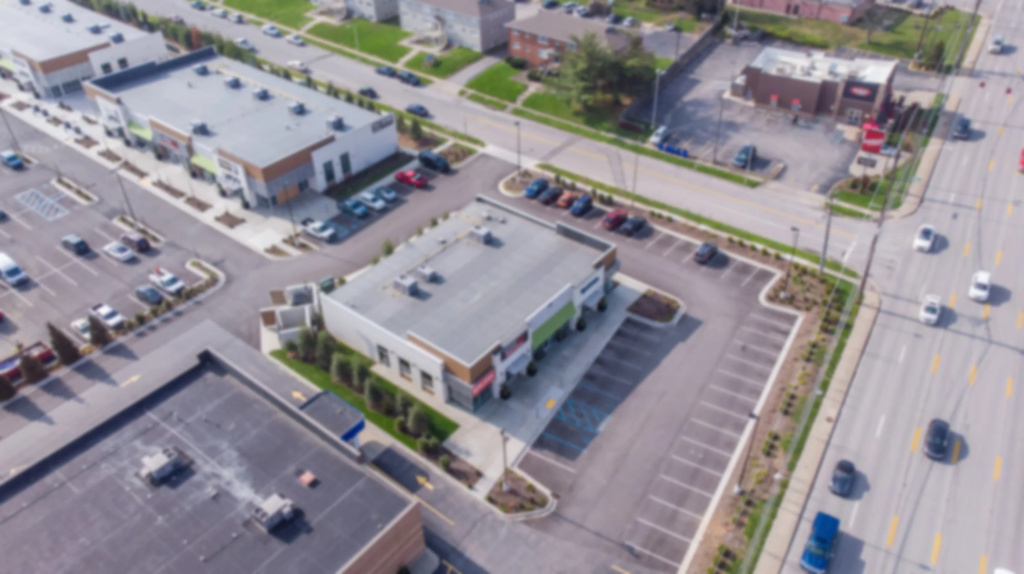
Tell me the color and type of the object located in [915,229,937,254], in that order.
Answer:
white car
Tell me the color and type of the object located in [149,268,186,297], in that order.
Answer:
white truck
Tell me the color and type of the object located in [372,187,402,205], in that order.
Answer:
blue car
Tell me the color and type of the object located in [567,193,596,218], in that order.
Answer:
blue car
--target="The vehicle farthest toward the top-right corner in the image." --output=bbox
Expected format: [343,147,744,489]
[989,36,1004,53]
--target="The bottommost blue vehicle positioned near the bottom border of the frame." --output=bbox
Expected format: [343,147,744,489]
[799,515,839,574]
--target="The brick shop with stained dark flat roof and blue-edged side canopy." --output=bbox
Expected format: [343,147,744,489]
[0,345,427,574]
